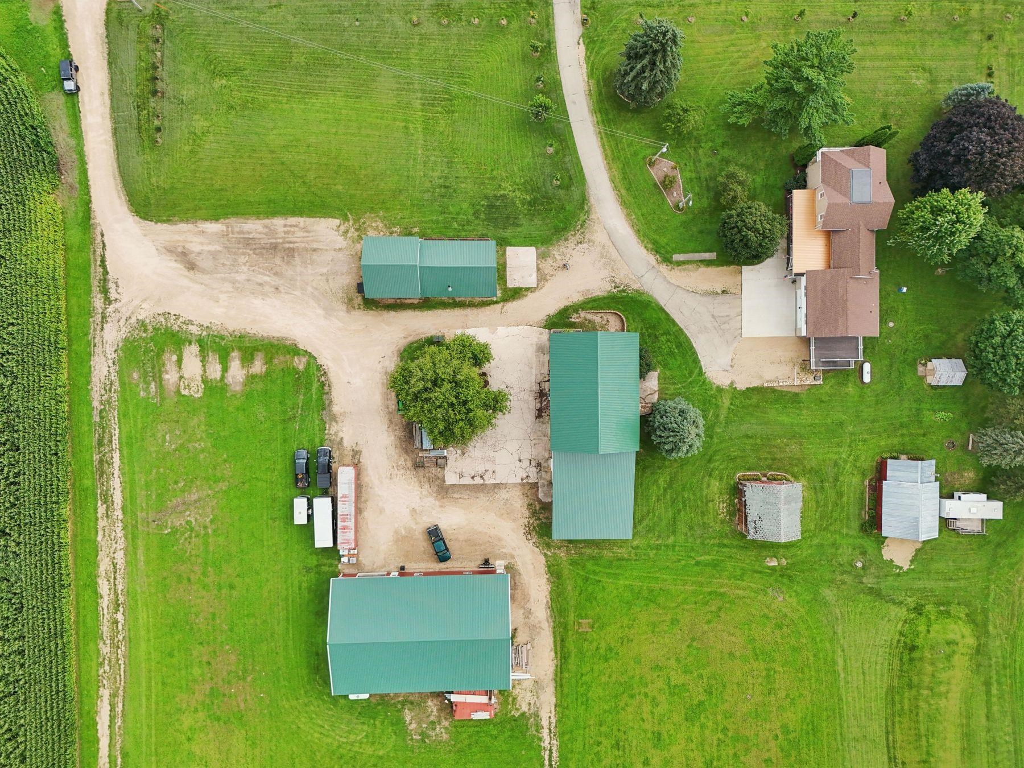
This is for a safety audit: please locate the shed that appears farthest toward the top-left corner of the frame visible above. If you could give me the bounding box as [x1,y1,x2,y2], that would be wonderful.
[361,236,422,298]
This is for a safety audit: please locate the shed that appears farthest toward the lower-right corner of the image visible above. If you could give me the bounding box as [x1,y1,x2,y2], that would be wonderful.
[875,481,939,541]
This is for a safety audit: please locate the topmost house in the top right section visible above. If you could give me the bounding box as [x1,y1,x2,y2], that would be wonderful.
[807,145,895,231]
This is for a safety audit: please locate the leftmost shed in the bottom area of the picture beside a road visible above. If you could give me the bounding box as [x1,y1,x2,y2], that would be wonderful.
[326,568,512,695]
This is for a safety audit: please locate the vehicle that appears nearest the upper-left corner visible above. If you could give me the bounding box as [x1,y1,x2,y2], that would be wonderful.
[56,61,78,95]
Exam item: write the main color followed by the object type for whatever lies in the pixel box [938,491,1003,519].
white camper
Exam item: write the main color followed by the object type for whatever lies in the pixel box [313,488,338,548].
white trailer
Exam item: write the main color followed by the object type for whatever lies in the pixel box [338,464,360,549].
white trailer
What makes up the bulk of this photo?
grass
